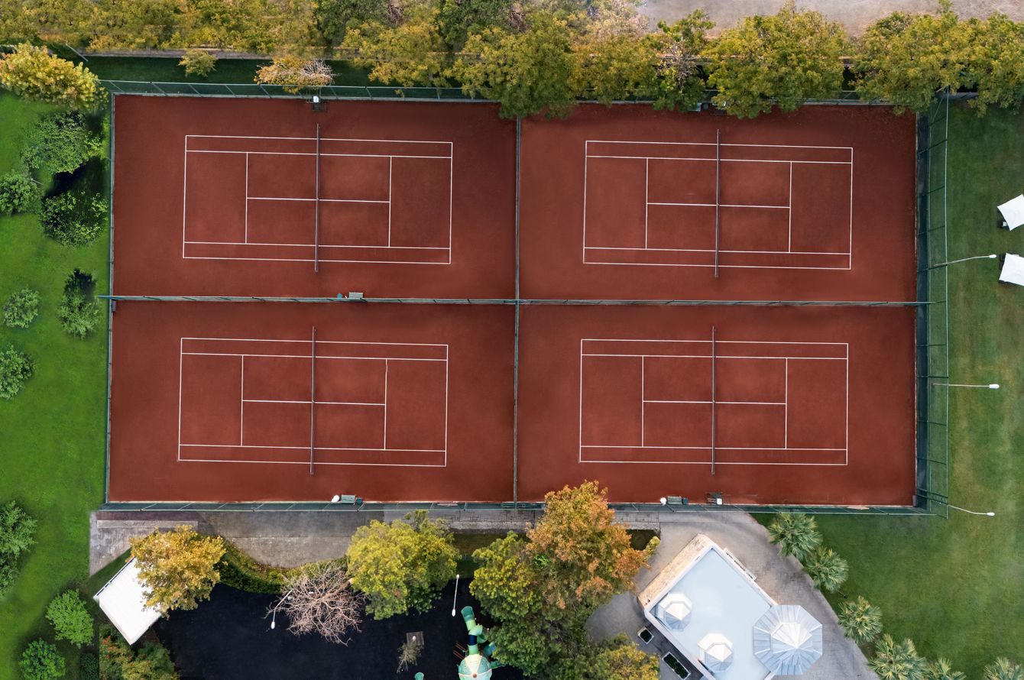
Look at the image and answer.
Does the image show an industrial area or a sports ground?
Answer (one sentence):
This image shows a sports ground.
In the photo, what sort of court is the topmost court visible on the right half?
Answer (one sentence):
The topmost court visible on the right half is a tennis court.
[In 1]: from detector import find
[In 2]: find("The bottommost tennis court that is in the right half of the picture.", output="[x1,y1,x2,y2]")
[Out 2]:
[517,303,915,506]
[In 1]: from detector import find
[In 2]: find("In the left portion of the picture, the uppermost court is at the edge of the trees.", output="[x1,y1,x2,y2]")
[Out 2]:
[111,95,517,303]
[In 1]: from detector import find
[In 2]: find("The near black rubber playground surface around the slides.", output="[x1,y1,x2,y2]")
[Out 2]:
[157,576,541,680]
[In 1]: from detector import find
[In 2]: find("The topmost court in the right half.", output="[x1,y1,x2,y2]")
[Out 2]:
[518,101,916,302]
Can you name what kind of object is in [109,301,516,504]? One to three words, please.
tennis court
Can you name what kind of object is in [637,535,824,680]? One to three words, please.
building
